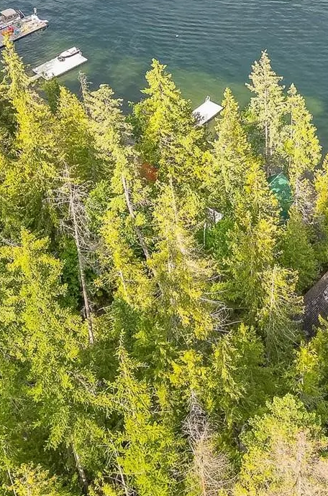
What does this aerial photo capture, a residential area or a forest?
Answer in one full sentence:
It's a forest.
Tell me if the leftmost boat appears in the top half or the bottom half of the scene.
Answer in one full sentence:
The top half of the photo is where the leftmost boat is.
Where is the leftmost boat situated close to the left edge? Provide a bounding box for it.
[0,3,34,29]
